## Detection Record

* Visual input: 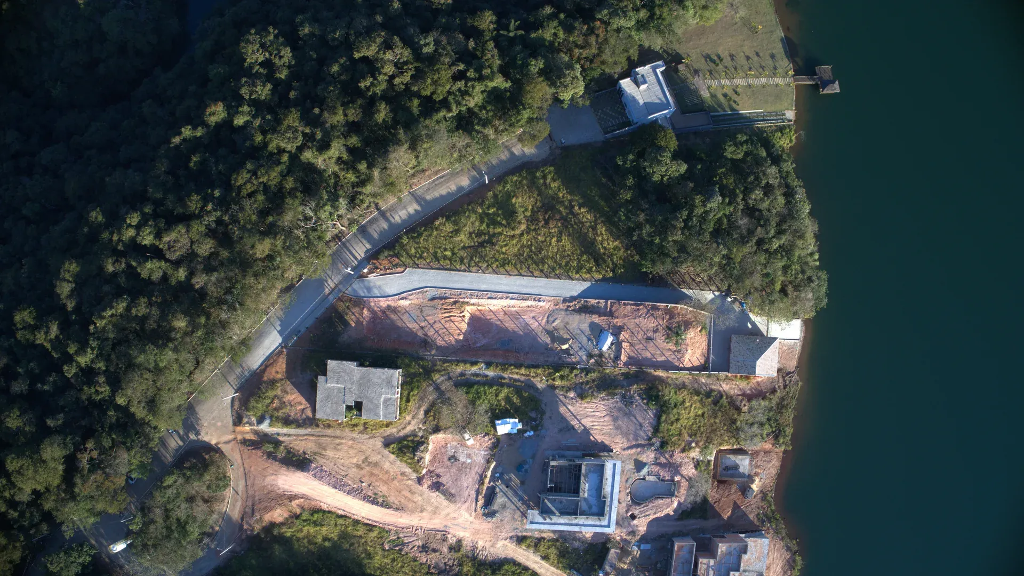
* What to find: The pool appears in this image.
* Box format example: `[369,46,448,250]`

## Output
[629,475,677,503]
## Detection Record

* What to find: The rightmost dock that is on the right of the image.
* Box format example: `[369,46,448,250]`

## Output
[793,65,835,85]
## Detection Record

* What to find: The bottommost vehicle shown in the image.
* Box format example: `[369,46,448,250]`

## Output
[106,537,130,554]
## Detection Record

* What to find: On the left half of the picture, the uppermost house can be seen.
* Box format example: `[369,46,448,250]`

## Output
[316,360,403,421]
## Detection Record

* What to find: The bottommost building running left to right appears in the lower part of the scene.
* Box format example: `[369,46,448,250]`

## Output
[667,535,769,576]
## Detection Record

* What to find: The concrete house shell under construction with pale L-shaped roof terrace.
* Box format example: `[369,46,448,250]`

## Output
[527,445,621,533]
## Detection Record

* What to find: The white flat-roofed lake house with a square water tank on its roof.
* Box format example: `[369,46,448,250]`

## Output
[617,61,675,129]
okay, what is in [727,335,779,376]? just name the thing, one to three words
house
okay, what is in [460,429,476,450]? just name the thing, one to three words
vehicle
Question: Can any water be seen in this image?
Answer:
Yes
